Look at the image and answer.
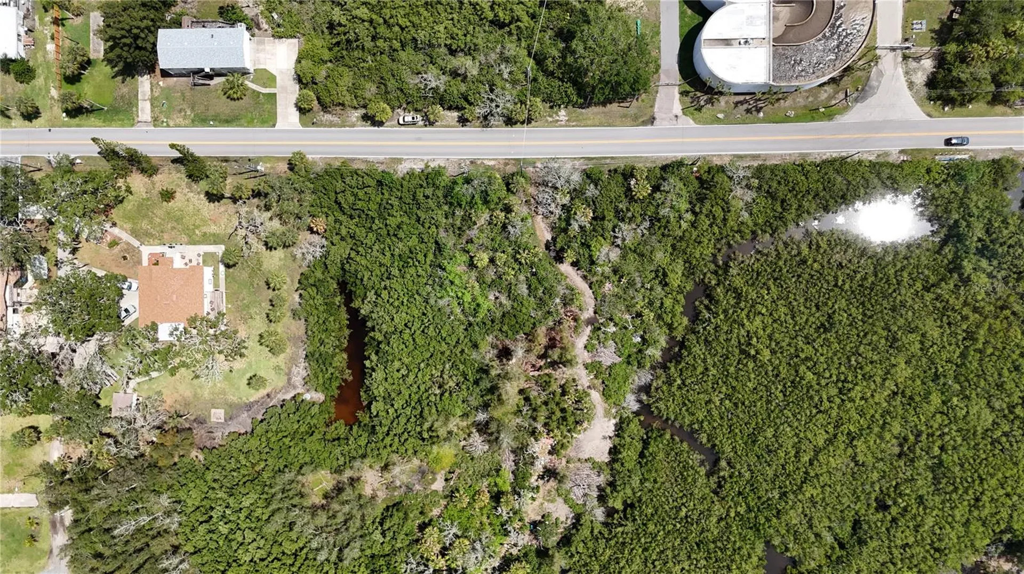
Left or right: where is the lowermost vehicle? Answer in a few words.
left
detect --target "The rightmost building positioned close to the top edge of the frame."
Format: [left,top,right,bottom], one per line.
[155,14,255,85]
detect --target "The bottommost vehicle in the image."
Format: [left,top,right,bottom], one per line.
[112,301,138,324]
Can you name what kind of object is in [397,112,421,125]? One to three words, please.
vehicle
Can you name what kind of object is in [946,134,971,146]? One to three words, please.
vehicle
